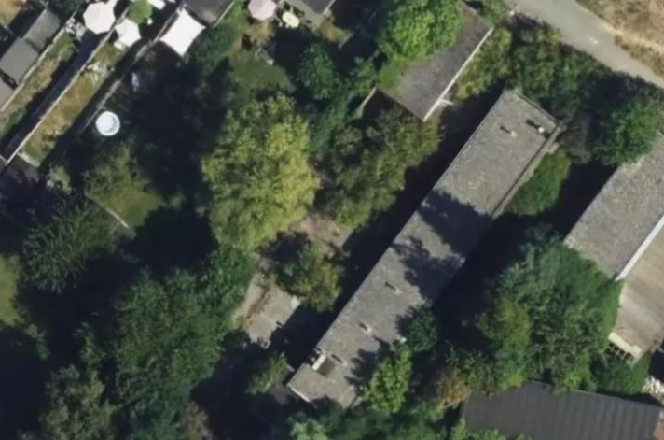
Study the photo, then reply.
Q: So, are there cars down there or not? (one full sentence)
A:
No, there's no car here.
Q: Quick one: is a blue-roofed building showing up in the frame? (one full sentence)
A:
No, the picture doesn't show any blue-roofed building.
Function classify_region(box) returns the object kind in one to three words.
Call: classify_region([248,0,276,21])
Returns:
umbrella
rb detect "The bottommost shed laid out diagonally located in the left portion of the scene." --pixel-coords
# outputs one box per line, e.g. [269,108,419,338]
[9,155,38,184]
